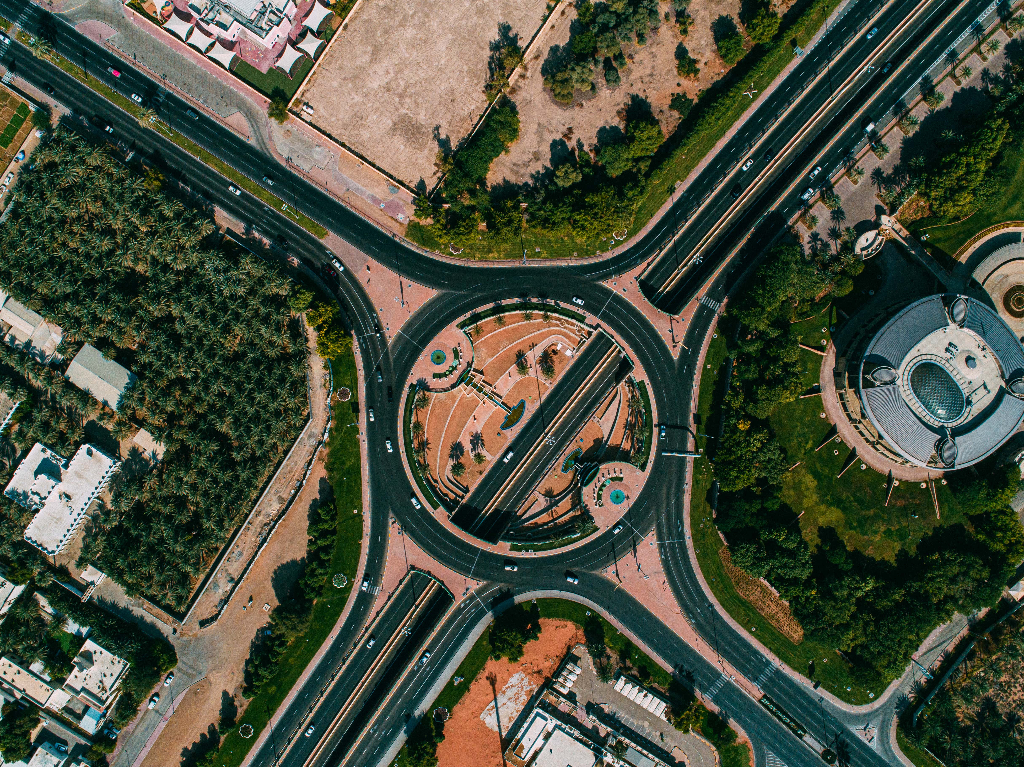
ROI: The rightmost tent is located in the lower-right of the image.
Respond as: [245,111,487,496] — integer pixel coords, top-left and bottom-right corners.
[1003,578,1024,604]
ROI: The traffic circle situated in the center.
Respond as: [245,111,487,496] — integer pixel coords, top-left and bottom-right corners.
[366,265,690,589]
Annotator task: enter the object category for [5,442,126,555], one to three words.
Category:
house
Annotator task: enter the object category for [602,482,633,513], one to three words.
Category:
fountain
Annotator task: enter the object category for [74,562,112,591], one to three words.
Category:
building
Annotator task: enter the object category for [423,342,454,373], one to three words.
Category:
fountain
